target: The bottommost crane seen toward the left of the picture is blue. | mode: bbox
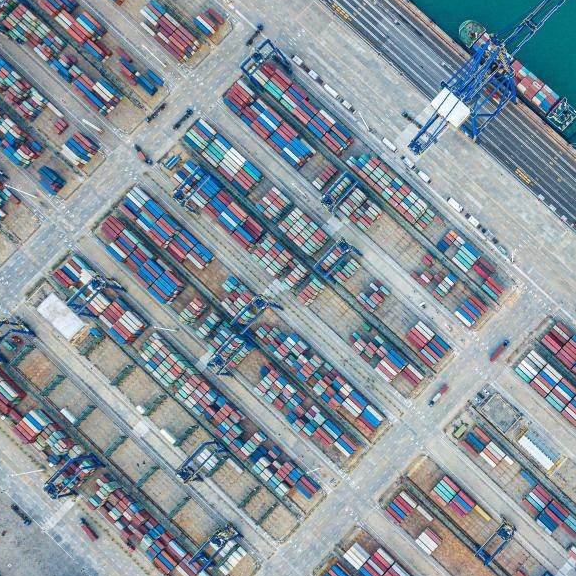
[188,522,243,574]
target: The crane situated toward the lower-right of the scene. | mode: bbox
[473,515,515,567]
